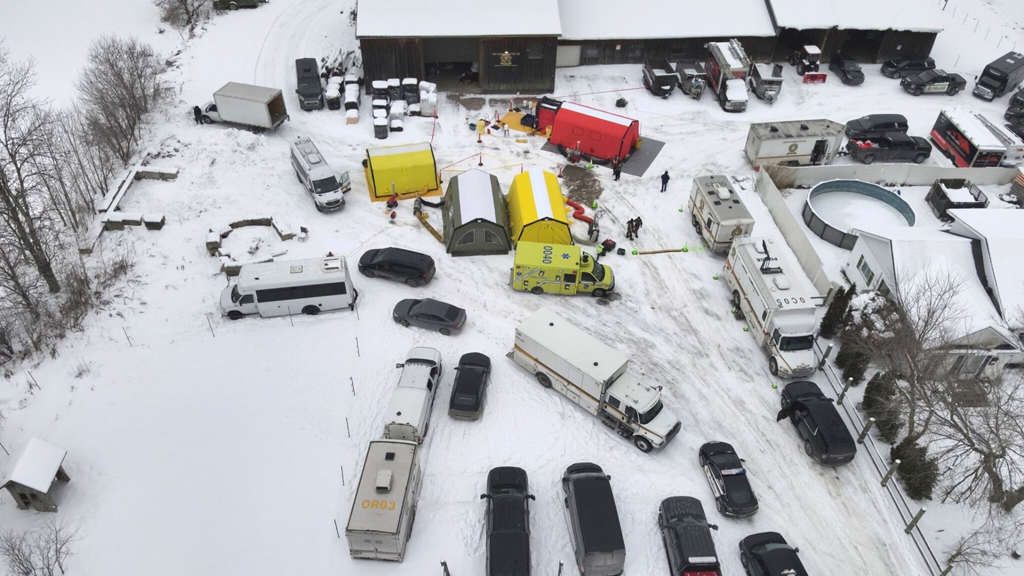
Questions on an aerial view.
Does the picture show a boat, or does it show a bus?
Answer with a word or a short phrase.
bus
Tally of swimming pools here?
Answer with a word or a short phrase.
1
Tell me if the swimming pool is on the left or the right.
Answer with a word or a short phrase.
right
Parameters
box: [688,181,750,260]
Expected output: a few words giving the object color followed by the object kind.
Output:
gray trailer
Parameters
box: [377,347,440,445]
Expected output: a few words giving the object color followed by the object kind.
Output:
white truck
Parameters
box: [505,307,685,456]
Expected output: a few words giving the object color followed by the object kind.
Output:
white truck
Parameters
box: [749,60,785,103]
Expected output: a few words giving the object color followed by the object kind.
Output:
gray trailer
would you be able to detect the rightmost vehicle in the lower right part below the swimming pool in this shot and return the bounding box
[780,385,854,463]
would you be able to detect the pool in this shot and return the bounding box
[802,178,923,249]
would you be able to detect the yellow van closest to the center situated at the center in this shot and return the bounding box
[509,243,615,296]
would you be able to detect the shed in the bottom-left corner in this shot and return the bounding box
[0,442,75,513]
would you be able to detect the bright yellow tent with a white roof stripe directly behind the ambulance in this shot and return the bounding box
[505,166,577,248]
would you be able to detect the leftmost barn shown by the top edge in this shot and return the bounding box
[349,0,565,94]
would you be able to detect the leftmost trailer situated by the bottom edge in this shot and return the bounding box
[350,443,421,565]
